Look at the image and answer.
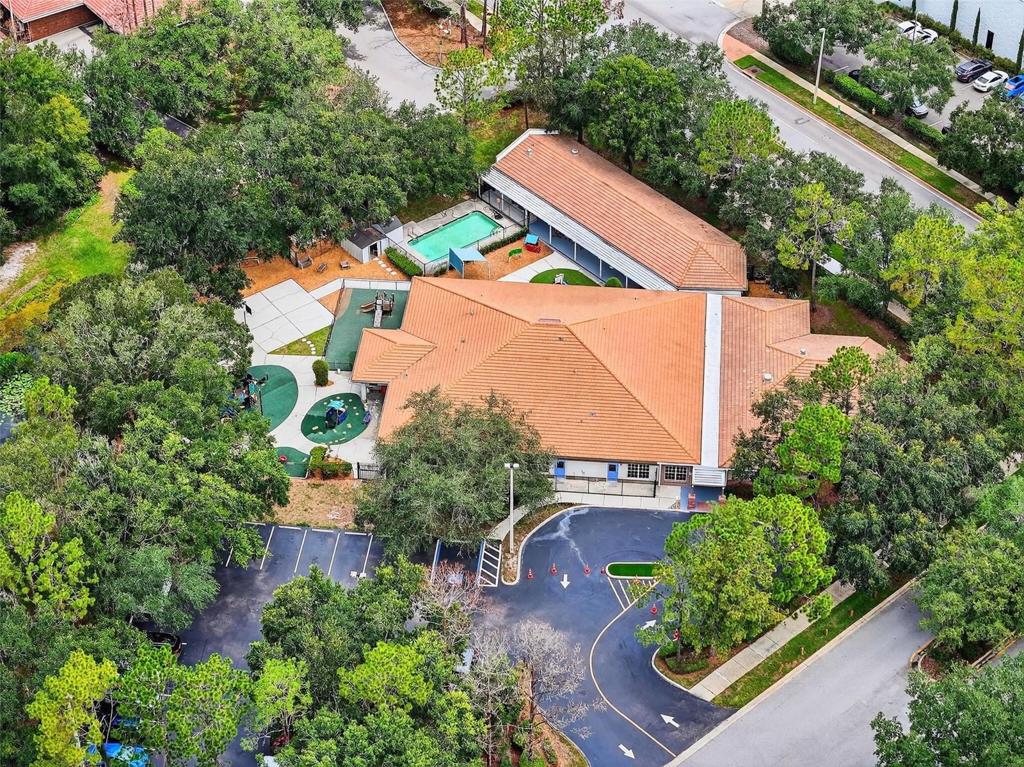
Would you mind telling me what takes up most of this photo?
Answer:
trees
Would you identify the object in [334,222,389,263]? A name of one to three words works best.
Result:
shed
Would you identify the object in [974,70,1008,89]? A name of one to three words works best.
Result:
car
